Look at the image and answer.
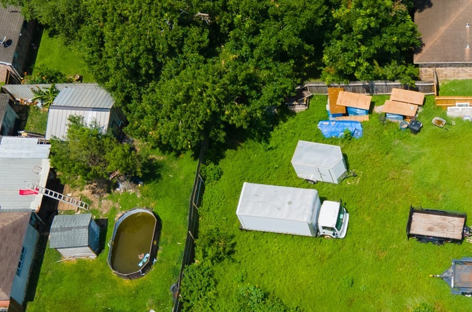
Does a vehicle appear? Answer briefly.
Yes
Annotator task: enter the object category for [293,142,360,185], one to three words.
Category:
trailer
